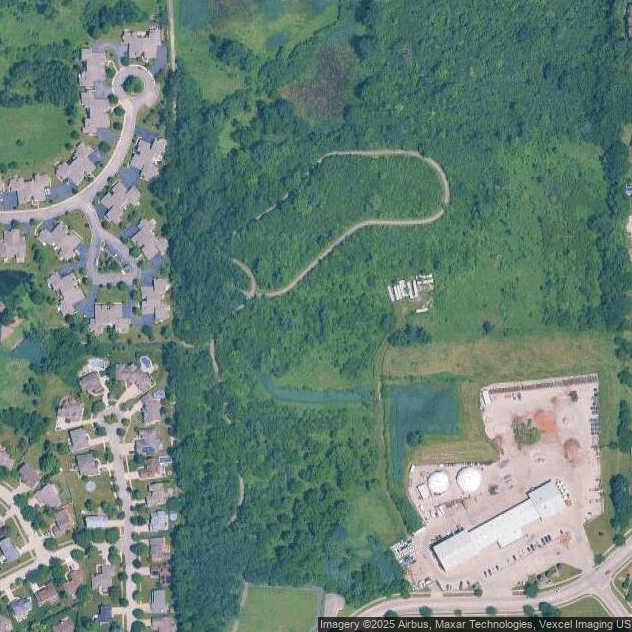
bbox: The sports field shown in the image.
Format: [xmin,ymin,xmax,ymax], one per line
[233,580,323,632]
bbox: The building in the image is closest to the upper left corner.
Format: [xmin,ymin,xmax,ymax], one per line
[81,46,109,95]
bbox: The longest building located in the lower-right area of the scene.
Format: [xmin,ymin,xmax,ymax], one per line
[434,483,566,571]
